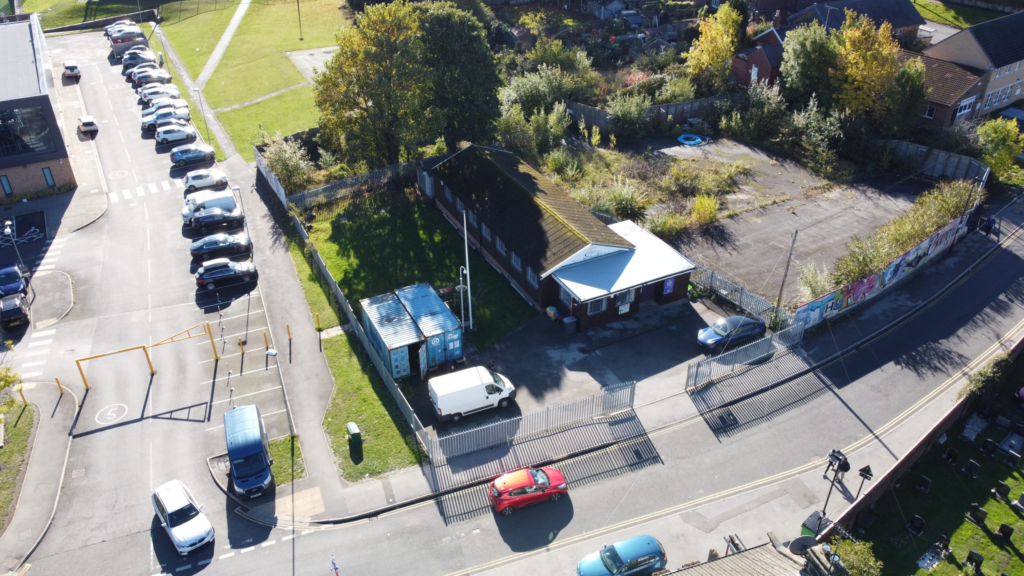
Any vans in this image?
Yes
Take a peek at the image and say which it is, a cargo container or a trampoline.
cargo container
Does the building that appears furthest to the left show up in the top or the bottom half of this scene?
top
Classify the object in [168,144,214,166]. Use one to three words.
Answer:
car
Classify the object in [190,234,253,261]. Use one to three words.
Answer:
car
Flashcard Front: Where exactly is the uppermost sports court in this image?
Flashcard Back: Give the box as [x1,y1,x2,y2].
[286,46,374,85]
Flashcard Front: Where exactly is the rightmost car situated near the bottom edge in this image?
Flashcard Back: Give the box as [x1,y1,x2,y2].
[578,526,667,576]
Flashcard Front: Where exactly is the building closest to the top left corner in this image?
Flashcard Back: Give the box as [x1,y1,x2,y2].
[0,11,80,199]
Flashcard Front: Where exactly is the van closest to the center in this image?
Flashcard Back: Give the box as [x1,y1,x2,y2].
[428,362,521,422]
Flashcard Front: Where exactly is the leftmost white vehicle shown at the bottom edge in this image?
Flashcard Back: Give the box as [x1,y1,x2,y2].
[152,477,216,557]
